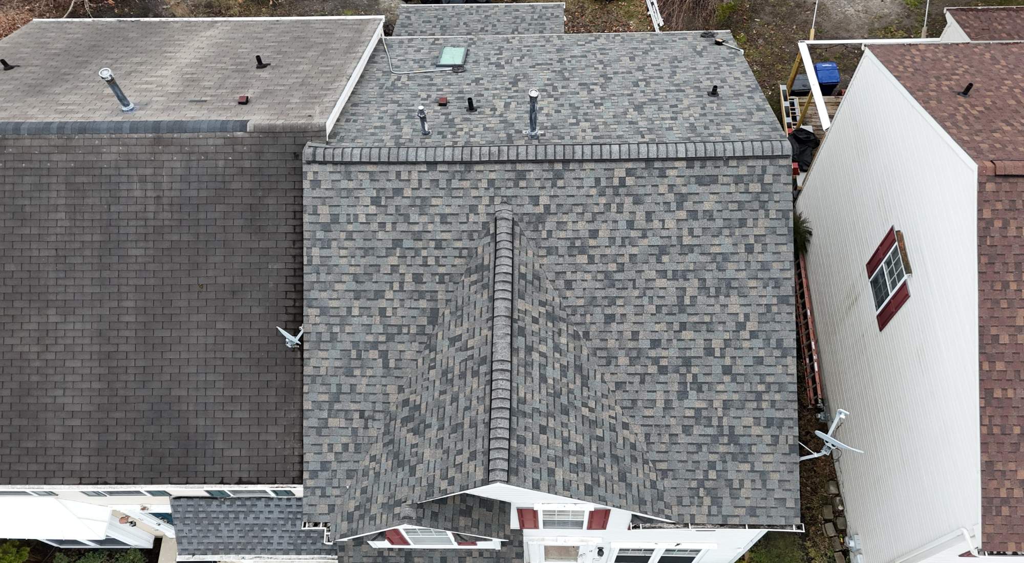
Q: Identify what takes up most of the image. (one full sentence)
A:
Most of the picture is covered by buildings.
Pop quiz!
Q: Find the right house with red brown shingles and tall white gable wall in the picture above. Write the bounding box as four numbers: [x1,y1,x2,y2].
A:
[799,6,1024,563]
